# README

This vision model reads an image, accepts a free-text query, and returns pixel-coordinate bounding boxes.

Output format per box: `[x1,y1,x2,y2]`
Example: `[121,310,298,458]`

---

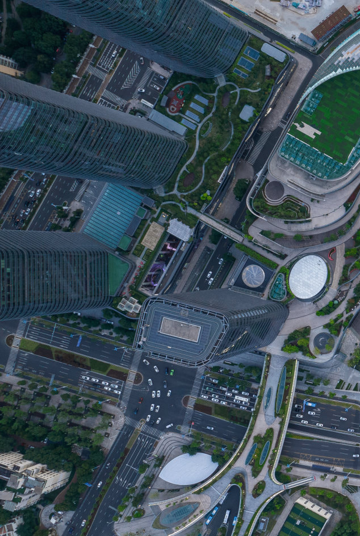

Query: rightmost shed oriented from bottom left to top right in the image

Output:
[311,5,353,41]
